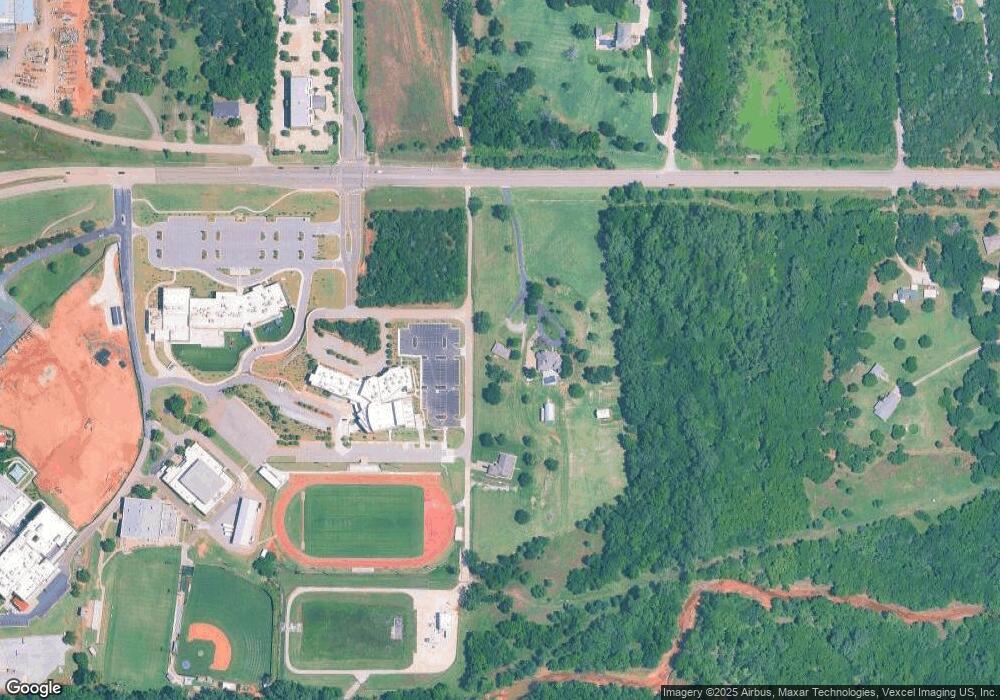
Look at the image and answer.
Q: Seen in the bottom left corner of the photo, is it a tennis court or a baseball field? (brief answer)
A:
baseball field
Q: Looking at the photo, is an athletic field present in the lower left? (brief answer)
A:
Yes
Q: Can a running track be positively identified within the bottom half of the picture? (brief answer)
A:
Yes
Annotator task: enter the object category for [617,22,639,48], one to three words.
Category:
house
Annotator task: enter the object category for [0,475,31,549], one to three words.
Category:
building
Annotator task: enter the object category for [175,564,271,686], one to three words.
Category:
baseball field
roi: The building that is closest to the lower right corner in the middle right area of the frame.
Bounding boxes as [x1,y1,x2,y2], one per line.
[874,386,902,420]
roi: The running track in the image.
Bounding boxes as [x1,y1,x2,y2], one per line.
[271,473,457,570]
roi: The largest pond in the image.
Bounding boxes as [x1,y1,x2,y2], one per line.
[737,75,794,152]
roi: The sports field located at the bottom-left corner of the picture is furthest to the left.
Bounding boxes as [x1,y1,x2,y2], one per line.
[104,546,182,690]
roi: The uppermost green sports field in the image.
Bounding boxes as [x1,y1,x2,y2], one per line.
[284,483,425,558]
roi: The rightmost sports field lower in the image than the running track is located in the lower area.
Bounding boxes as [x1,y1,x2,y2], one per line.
[289,592,416,670]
